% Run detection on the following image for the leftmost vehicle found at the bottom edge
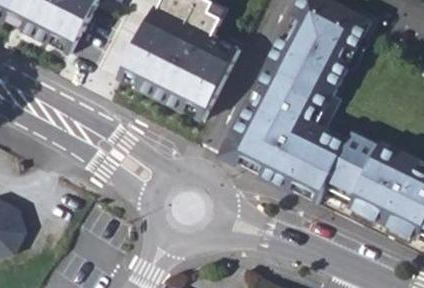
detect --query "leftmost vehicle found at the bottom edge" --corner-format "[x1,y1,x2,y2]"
[75,260,93,284]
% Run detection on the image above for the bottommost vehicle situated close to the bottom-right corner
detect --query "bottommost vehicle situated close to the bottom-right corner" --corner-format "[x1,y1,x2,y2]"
[358,244,380,260]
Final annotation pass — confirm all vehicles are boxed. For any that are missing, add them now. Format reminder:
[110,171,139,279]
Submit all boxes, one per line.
[102,218,119,240]
[281,228,305,244]
[358,244,380,260]
[96,276,110,288]
[74,58,96,73]
[75,260,93,284]
[60,193,84,210]
[90,28,106,48]
[312,223,334,238]
[50,205,72,221]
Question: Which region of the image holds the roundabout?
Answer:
bottom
